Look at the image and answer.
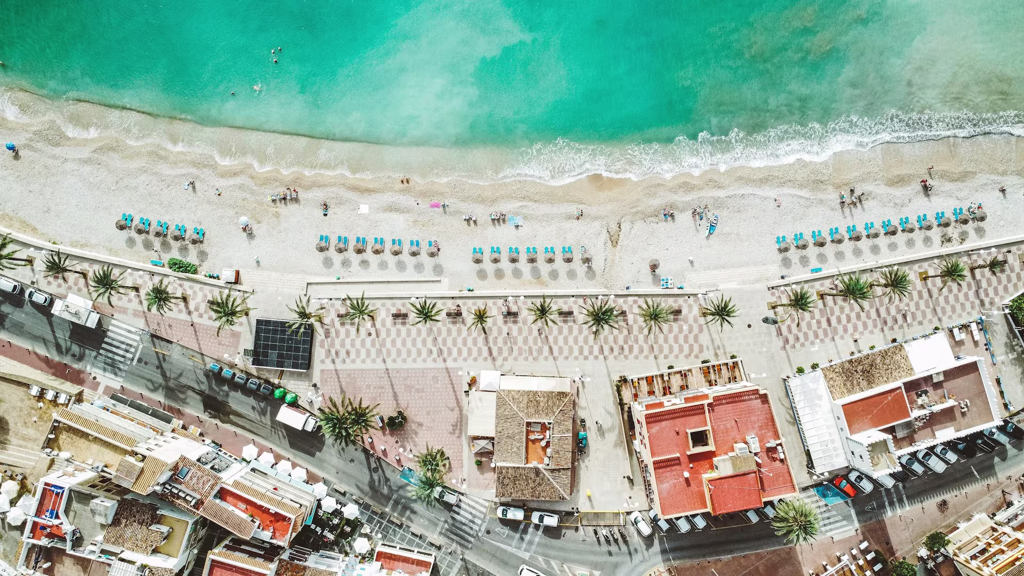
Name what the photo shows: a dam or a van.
van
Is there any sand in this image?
Yes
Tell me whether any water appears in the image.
Yes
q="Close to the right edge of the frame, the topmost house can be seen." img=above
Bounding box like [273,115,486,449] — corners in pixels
[779,330,1006,481]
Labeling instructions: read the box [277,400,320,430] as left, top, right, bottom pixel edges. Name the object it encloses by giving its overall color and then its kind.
white truck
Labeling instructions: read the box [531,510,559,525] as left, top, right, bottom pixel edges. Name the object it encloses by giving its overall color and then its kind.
white car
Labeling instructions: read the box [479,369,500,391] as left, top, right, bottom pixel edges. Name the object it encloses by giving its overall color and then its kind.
white tent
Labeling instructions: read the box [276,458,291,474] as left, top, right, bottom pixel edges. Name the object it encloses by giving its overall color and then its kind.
white umbrella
